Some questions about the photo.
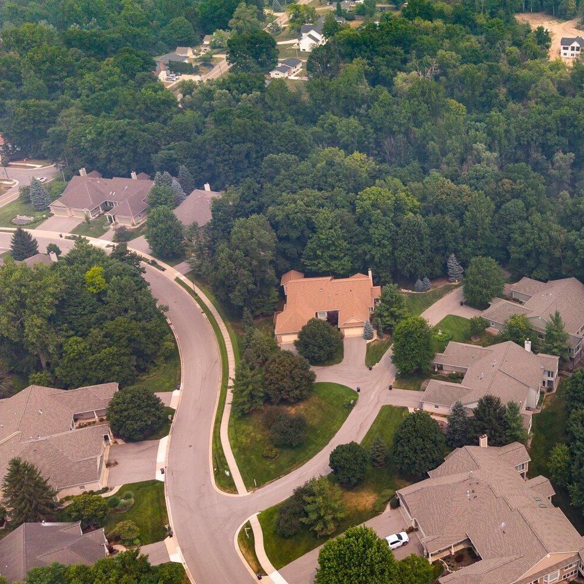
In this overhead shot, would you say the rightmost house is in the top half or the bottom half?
top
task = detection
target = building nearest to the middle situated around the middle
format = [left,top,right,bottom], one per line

[273,267,380,343]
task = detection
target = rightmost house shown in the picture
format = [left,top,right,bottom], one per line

[560,37,584,63]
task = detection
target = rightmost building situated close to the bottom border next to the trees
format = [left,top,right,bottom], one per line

[394,433,584,584]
